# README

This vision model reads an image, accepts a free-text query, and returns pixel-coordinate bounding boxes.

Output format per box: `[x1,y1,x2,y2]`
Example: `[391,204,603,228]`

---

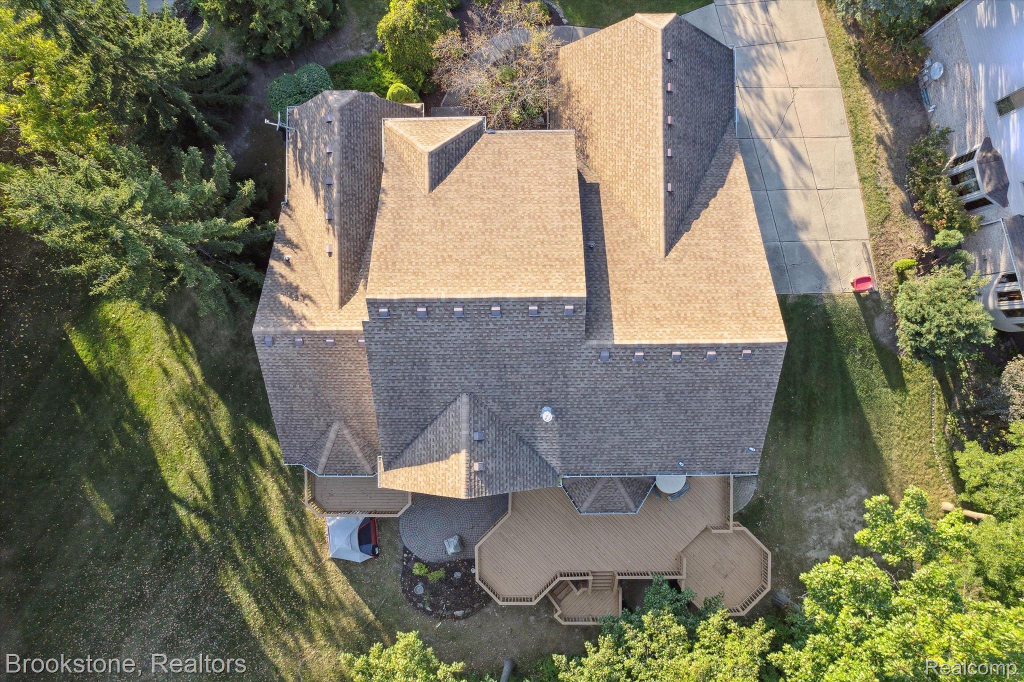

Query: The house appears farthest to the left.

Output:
[254,14,787,516]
